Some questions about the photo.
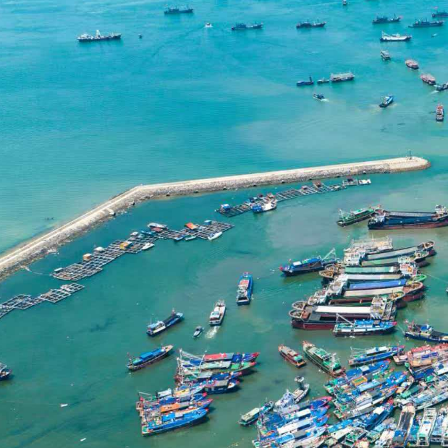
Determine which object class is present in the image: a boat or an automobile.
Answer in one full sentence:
Visible in the photo is a boat.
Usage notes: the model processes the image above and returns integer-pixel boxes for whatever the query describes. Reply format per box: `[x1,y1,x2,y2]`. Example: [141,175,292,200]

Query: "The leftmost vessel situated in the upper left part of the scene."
[76,25,123,40]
